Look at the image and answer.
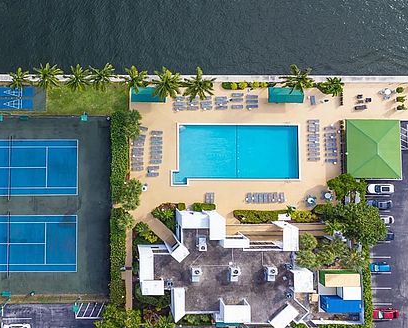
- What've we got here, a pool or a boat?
pool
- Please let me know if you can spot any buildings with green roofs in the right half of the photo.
Yes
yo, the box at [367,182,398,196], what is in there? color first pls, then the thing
white vehicle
